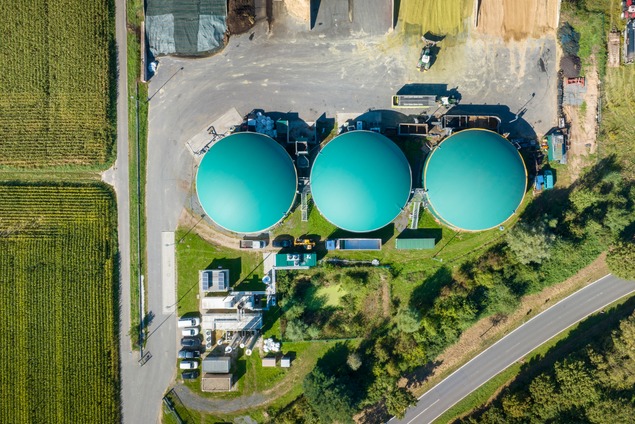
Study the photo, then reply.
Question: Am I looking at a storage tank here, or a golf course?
storage tank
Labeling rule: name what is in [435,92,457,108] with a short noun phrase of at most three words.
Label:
work vehicle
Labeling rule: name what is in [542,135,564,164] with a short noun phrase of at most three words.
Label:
shed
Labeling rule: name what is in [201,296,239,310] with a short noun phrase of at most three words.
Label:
building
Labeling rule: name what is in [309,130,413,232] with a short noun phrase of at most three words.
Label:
storage tank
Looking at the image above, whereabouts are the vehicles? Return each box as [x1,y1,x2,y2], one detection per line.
[415,35,437,69]
[272,239,292,249]
[240,239,267,250]
[177,317,201,327]
[326,238,385,252]
[179,348,200,358]
[180,360,199,369]
[180,369,199,379]
[538,140,546,151]
[435,92,457,108]
[291,237,321,249]
[180,327,200,337]
[180,337,202,347]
